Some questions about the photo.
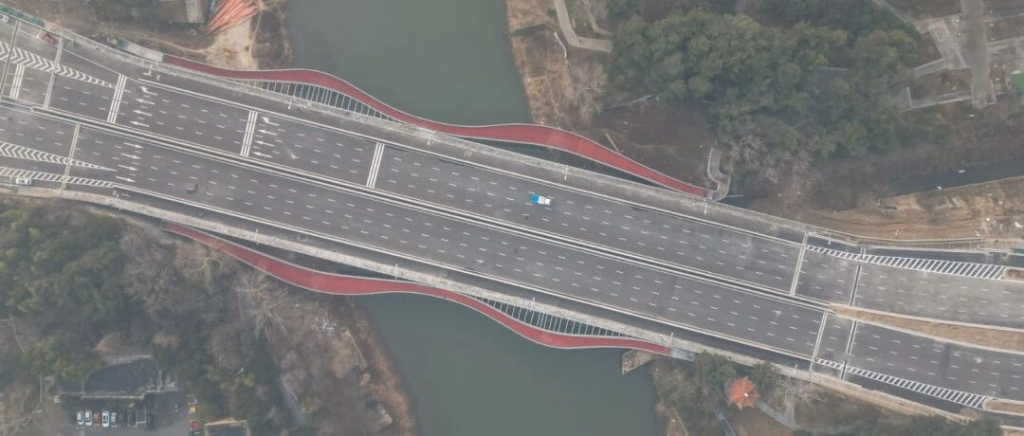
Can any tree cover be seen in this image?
Yes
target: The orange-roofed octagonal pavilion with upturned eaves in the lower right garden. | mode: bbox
[727,376,761,408]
